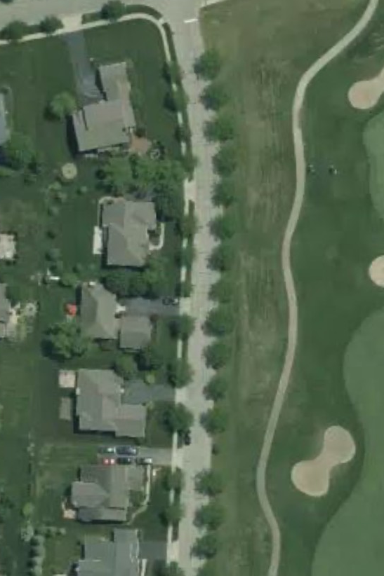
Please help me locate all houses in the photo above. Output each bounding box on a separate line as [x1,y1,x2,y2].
[0,284,7,338]
[77,369,147,438]
[70,66,135,153]
[72,466,146,522]
[81,283,153,349]
[102,200,156,267]
[0,94,10,148]
[78,530,140,576]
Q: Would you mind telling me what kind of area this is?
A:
golf course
